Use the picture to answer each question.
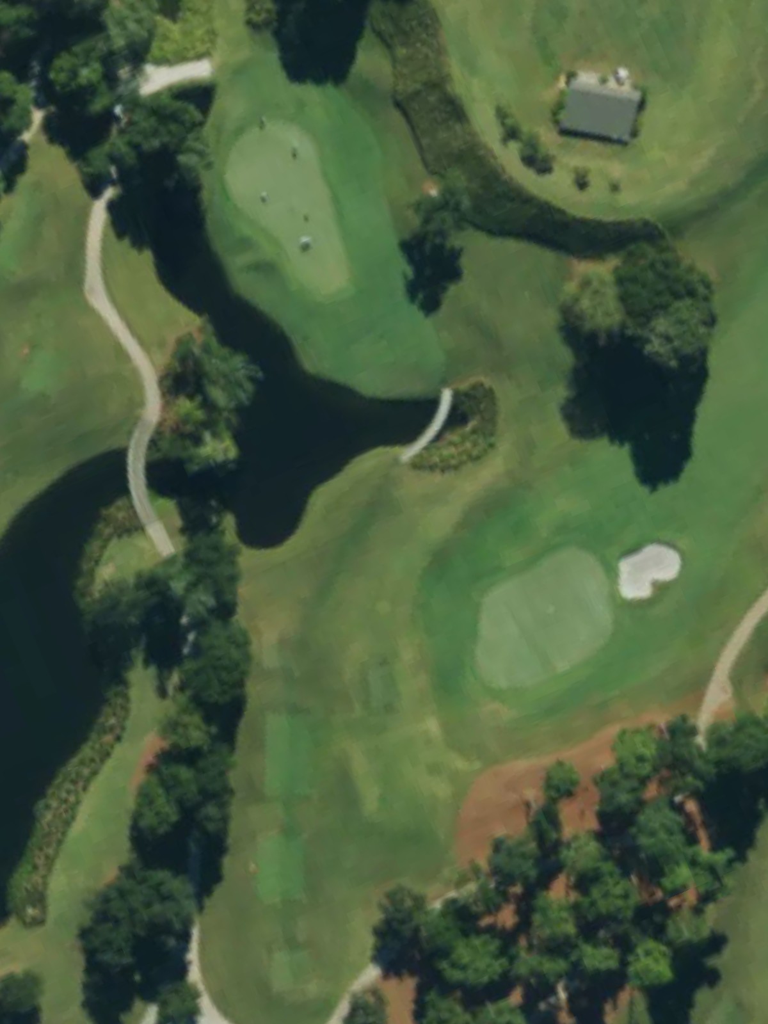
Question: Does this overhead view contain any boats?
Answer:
No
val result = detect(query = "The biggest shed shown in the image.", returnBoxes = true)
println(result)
[562,65,641,140]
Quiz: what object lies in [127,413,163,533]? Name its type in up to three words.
bridge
